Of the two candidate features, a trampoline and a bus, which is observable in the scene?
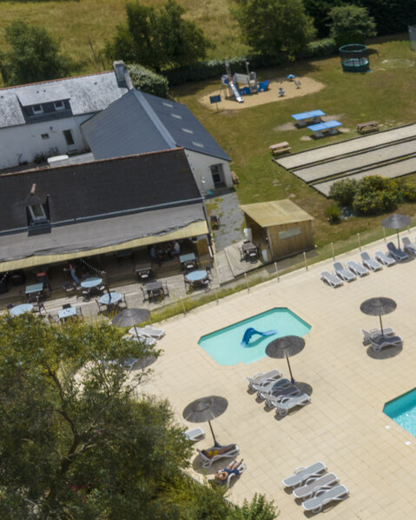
trampoline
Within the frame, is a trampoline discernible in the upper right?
Yes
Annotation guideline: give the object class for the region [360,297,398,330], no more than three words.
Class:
umbrella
